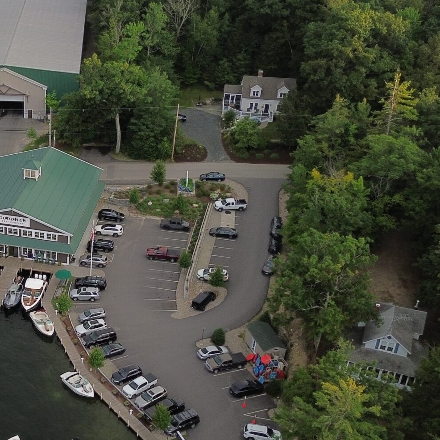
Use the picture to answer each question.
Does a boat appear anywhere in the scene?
Yes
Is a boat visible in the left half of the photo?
Yes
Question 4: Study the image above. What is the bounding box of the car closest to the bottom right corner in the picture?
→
[242,422,284,440]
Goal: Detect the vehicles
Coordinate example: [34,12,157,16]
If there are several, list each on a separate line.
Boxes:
[95,223,123,237]
[199,173,226,182]
[95,343,131,362]
[79,254,108,268]
[194,344,231,361]
[209,228,239,239]
[118,372,162,400]
[190,291,219,309]
[97,209,125,222]
[242,422,284,440]
[108,362,145,385]
[145,246,181,261]
[74,274,107,290]
[80,326,118,350]
[74,316,108,336]
[213,198,248,211]
[267,232,281,254]
[69,286,101,302]
[261,255,279,276]
[159,218,193,232]
[85,237,116,251]
[162,409,204,438]
[75,305,109,323]
[197,267,229,281]
[132,385,170,410]
[203,352,249,373]
[227,381,265,399]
